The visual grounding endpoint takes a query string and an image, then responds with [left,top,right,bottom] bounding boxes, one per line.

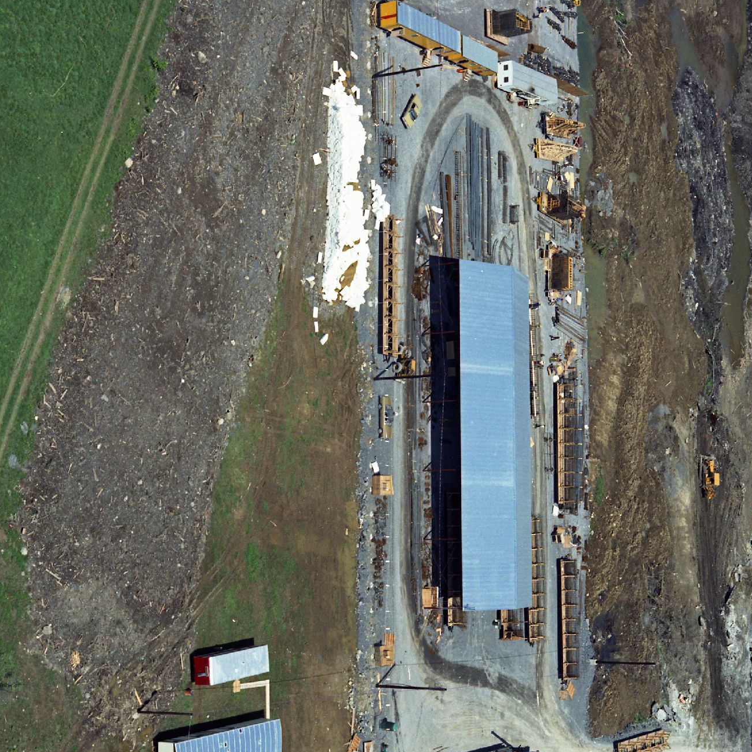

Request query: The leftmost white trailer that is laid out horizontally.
[196,645,270,685]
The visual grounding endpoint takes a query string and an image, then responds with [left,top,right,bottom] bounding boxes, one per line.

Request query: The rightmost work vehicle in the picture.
[702,461,721,498]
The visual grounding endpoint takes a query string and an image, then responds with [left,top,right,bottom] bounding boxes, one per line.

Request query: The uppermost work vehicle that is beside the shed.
[398,341,425,383]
